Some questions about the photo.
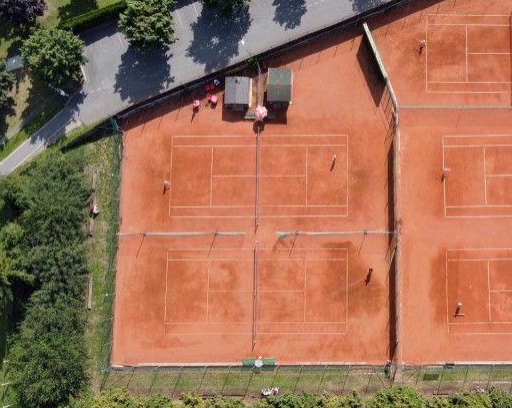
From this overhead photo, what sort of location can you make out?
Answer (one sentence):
What you see here is a sports ground.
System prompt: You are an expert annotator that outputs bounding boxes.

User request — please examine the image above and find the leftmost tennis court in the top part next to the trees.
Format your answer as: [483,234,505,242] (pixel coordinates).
[118,13,393,233]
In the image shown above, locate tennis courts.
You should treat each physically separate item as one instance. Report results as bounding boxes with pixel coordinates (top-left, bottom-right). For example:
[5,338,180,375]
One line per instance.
[118,13,393,233]
[390,109,512,232]
[393,232,512,366]
[387,0,512,109]
[110,233,396,366]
